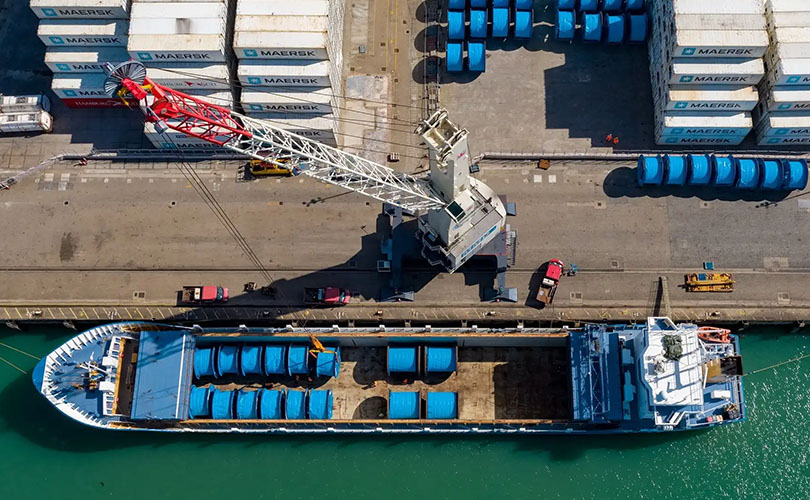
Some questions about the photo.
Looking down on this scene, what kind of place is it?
port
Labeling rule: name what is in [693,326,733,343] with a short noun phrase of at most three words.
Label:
boat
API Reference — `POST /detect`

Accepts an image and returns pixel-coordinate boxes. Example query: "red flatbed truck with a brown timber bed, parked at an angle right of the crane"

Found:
[531,258,560,306]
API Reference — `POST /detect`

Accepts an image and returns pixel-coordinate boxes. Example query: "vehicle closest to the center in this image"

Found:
[301,287,350,305]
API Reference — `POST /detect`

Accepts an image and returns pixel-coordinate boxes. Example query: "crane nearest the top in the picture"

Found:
[104,63,522,350]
